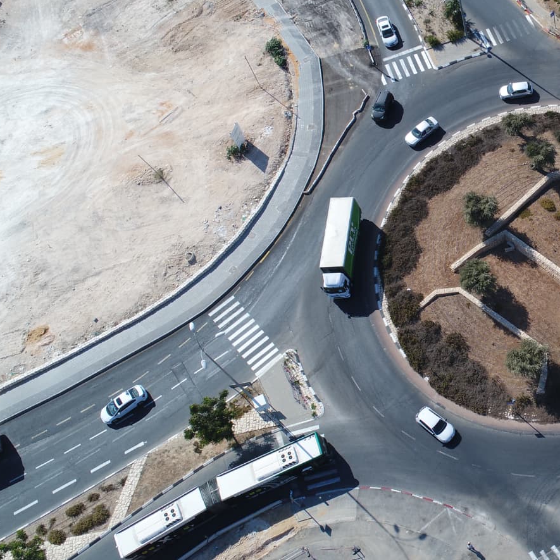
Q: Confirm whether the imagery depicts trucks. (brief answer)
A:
Yes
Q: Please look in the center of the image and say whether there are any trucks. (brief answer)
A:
Yes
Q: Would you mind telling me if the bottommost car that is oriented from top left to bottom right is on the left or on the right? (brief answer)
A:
right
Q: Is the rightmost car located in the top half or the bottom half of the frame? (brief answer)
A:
top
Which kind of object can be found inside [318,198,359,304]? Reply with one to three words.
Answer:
truck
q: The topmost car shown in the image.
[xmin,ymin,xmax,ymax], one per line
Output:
[376,15,400,50]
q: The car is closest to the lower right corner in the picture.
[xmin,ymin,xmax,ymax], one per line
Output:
[414,405,457,447]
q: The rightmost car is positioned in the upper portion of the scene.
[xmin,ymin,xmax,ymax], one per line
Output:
[498,81,535,101]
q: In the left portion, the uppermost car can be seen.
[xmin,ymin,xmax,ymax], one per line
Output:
[101,383,151,426]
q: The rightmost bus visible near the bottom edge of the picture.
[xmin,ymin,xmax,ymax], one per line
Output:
[113,428,331,560]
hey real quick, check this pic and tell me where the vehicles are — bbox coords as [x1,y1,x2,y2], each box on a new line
[101,383,151,426]
[414,405,457,447]
[403,115,443,148]
[318,198,359,304]
[498,81,535,101]
[113,428,331,560]
[369,88,396,126]
[376,15,400,50]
